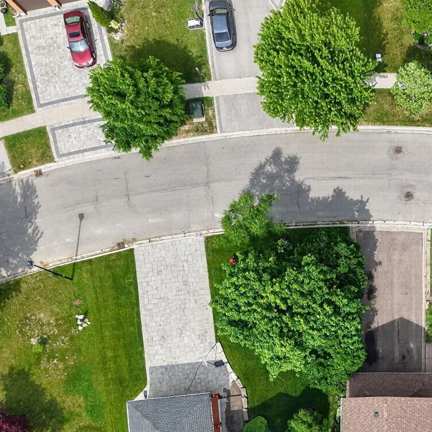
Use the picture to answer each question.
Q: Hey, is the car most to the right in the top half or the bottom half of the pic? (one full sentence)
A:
Seen from above, the car most to the right lies in the top half of the view.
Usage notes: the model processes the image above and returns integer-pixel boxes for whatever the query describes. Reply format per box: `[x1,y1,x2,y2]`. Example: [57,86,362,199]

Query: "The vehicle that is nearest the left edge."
[63,12,96,67]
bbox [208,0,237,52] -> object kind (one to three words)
car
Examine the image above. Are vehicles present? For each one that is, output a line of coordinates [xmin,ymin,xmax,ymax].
[208,0,237,52]
[63,12,96,67]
